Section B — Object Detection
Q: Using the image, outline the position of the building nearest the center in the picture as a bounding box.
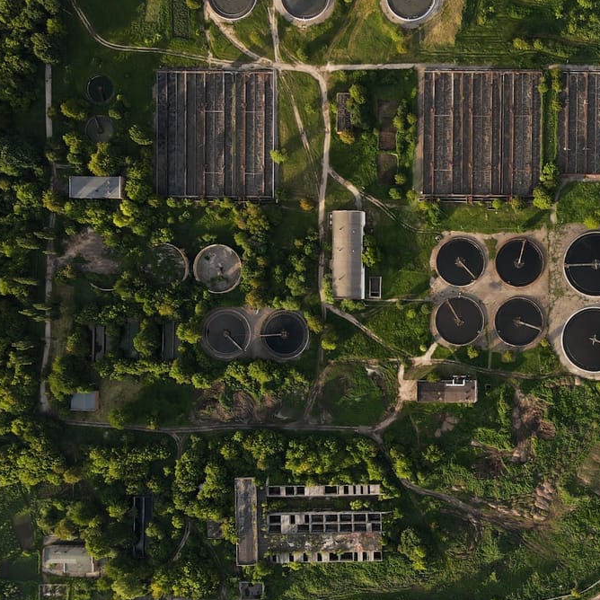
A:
[331,211,364,299]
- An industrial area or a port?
industrial area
